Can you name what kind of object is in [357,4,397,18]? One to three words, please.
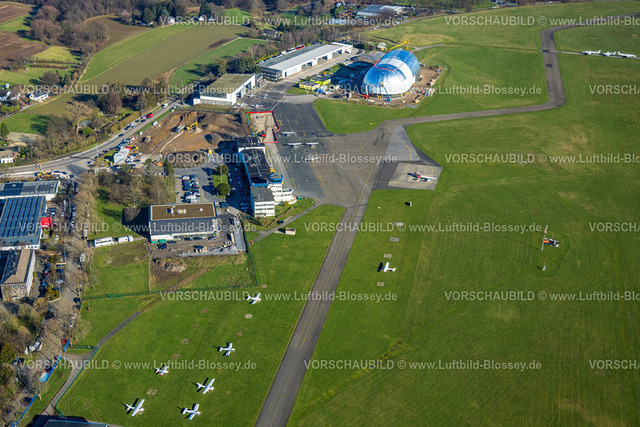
building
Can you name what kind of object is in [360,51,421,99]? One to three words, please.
hangar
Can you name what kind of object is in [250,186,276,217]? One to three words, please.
building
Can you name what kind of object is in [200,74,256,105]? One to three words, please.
hangar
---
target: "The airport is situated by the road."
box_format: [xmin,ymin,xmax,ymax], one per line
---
[246,12,640,427]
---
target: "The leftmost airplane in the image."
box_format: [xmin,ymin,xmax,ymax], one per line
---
[125,398,144,415]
